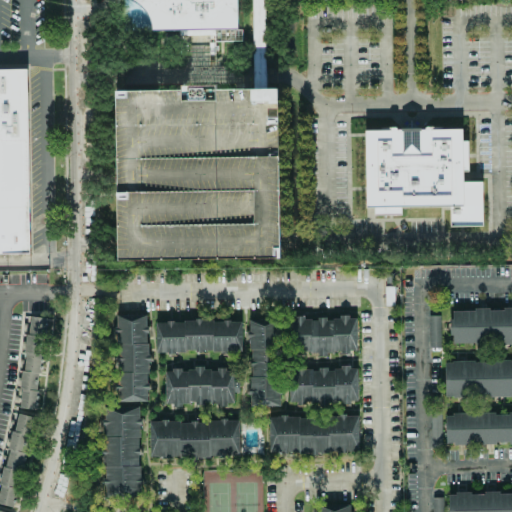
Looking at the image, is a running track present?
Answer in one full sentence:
No, the picture doesn't show any running track.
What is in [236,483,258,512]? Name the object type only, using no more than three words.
tennis court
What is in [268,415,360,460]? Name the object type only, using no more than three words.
building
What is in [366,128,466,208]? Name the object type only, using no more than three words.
building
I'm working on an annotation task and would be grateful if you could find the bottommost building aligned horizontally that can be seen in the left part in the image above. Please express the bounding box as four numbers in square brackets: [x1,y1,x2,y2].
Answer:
[150,418,241,460]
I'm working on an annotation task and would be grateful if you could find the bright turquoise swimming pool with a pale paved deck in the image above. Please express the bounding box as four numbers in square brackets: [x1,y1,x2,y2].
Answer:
[241,425,264,452]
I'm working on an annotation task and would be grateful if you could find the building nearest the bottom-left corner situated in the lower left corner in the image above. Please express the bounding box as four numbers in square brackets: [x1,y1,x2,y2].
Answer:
[0,410,32,508]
